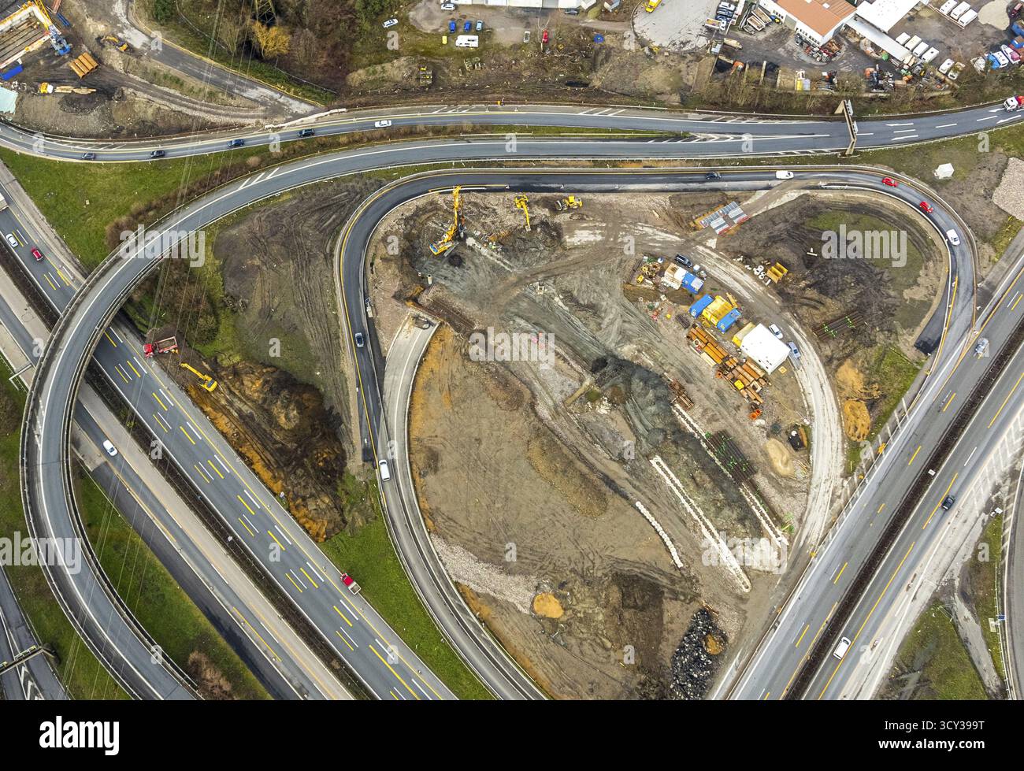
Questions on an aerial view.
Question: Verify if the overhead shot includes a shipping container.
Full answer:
Yes, a shipping container appears in the view.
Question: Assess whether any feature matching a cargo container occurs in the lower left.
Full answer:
No, looking in the lower left, there is no cargo container.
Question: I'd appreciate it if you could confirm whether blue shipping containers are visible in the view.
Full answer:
Yes, you can see a blue shipping container in this photo.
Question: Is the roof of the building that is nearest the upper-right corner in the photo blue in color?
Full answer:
No, the roof of the building that is nearest the upper-right corner is white.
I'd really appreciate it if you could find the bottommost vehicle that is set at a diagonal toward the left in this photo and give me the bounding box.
[338,570,362,595]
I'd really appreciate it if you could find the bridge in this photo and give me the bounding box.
[20,134,845,771]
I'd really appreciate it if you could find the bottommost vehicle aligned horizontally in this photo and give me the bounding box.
[143,338,177,356]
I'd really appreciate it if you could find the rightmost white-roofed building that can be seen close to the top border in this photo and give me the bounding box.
[856,0,925,38]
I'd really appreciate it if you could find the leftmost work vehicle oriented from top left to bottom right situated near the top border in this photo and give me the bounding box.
[99,27,130,49]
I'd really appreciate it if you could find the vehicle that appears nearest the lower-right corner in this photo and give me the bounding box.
[833,637,850,659]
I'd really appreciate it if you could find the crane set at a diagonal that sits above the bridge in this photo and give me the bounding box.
[29,0,73,56]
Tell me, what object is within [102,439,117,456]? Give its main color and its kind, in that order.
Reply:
white car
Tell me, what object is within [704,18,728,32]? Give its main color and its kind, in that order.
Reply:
white vehicle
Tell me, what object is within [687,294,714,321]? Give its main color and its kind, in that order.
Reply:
blue shipping container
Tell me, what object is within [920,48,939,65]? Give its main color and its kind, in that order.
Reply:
white camper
